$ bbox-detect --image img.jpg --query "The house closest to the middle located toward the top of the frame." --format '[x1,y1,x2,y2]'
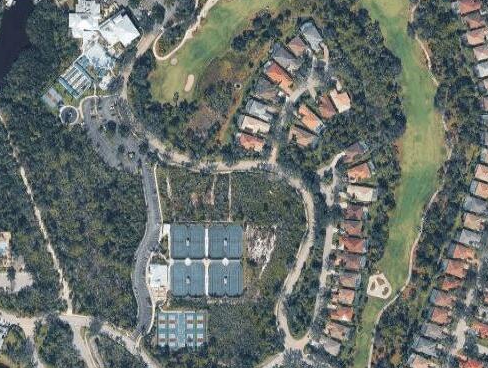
[238,134,265,152]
